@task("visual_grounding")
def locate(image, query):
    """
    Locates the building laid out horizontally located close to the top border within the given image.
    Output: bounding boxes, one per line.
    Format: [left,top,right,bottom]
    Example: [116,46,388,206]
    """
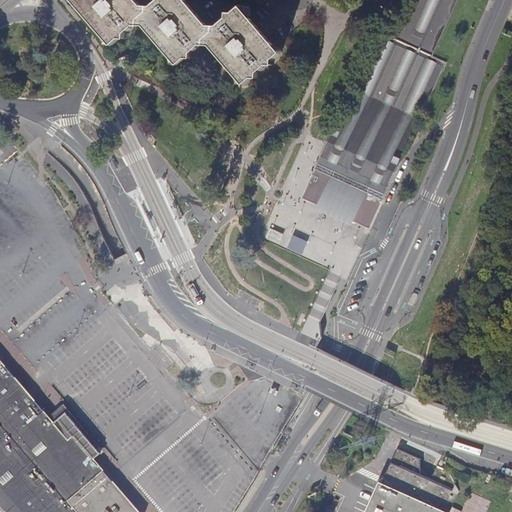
[66,0,277,85]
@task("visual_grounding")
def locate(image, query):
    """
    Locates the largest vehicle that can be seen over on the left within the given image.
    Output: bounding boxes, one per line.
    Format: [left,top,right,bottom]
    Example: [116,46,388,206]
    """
[188,283,202,304]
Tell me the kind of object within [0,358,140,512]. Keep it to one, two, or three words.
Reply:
building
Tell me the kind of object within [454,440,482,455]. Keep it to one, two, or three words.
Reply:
vehicle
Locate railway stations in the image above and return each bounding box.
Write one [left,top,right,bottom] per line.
[303,0,457,232]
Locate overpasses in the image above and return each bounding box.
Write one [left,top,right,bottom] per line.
[302,344,405,429]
